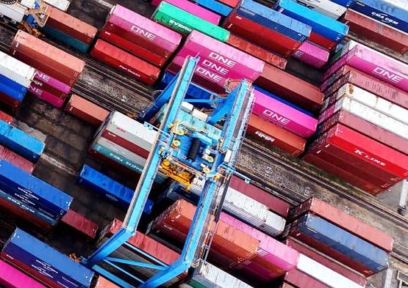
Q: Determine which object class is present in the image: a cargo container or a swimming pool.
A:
cargo container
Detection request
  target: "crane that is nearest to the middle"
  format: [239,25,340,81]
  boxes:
[59,48,259,288]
